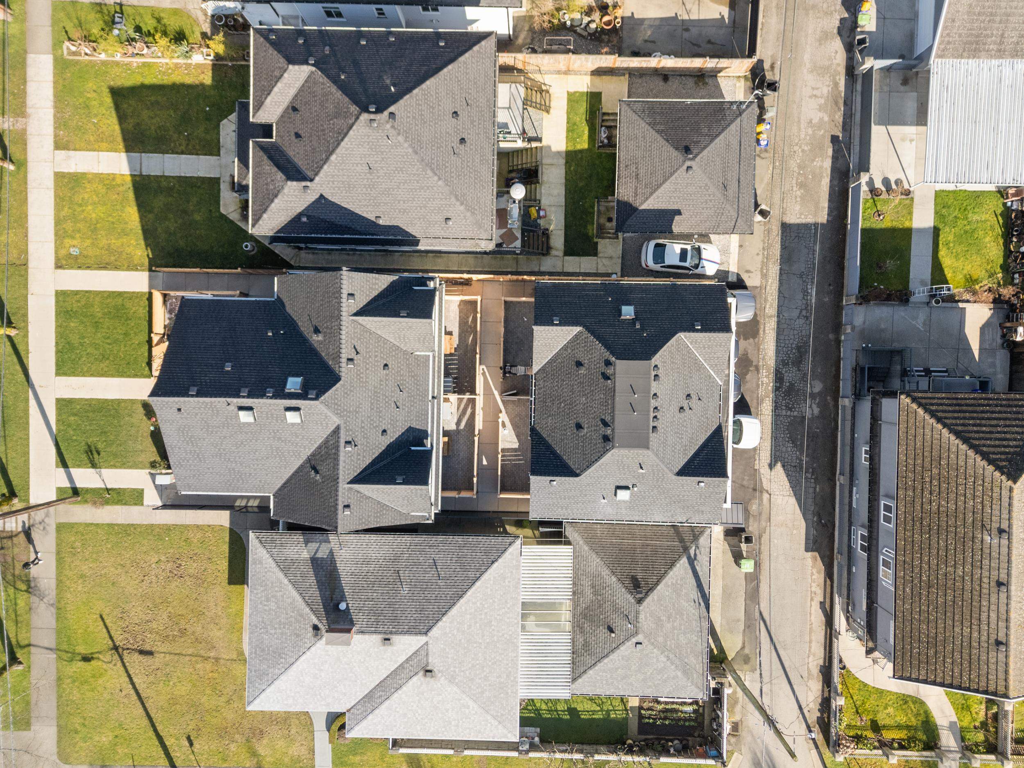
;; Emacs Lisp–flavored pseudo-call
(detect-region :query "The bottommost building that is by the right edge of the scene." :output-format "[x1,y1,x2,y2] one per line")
[852,387,1024,704]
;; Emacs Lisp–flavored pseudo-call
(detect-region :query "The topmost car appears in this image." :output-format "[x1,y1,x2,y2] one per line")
[642,239,721,277]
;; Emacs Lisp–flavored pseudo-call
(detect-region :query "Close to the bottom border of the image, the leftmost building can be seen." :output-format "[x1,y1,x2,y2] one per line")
[244,528,524,744]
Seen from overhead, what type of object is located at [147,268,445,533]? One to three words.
house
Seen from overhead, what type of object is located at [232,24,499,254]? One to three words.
house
